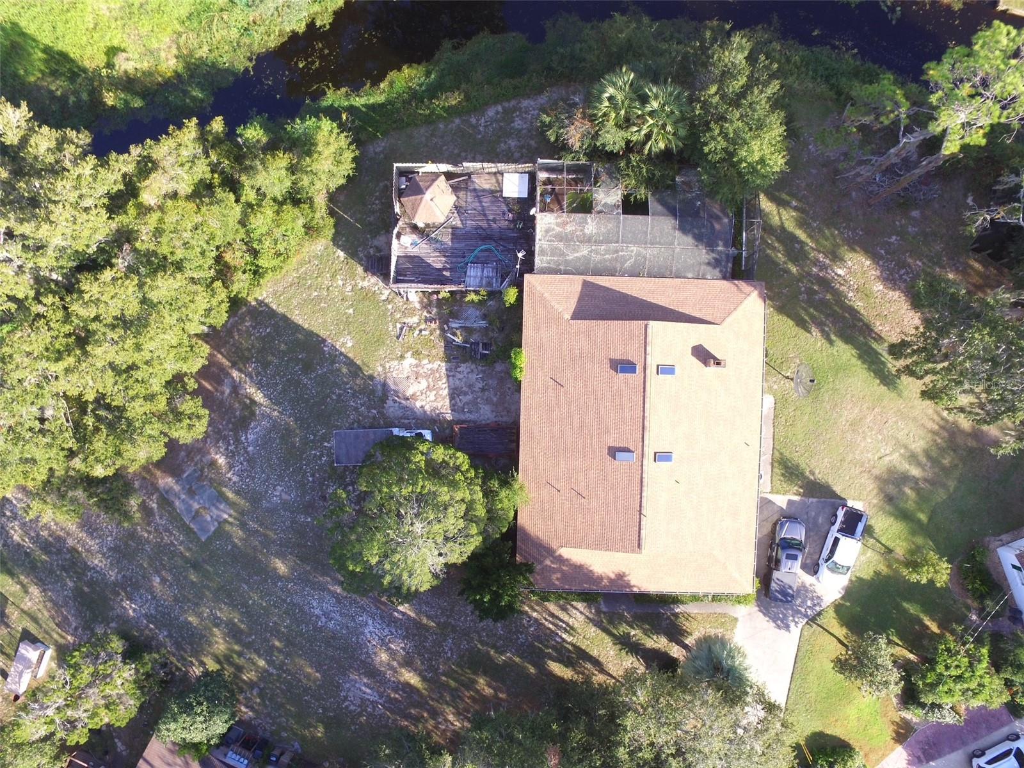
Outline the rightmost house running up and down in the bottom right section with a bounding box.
[987,522,1024,610]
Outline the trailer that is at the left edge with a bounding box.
[2,628,62,703]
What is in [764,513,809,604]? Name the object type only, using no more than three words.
truck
